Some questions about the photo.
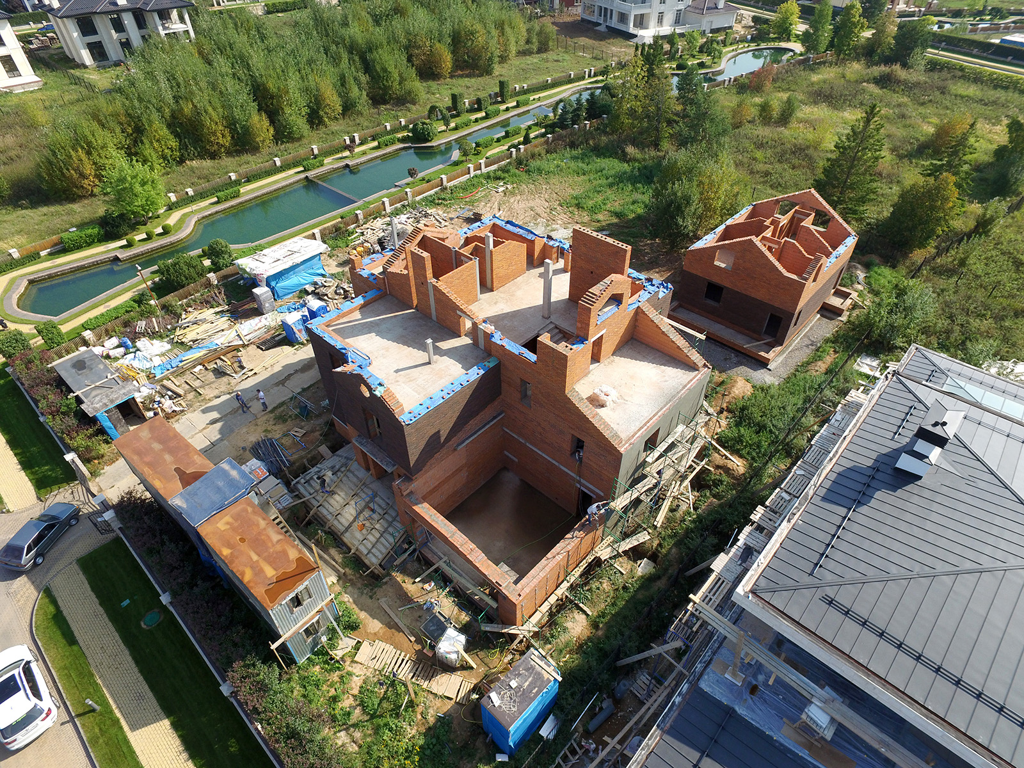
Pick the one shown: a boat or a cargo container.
cargo container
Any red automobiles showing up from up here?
No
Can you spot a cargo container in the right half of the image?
No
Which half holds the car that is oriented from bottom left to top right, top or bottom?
bottom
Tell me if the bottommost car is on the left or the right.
left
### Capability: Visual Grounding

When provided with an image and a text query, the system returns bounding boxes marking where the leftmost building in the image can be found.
[0,16,46,91]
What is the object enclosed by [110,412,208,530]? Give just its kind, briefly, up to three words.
shipping container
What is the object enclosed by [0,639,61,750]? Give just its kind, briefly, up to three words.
car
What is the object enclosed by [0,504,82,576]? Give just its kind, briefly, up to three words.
car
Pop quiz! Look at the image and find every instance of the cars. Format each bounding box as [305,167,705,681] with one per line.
[0,504,82,576]
[0,639,61,750]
